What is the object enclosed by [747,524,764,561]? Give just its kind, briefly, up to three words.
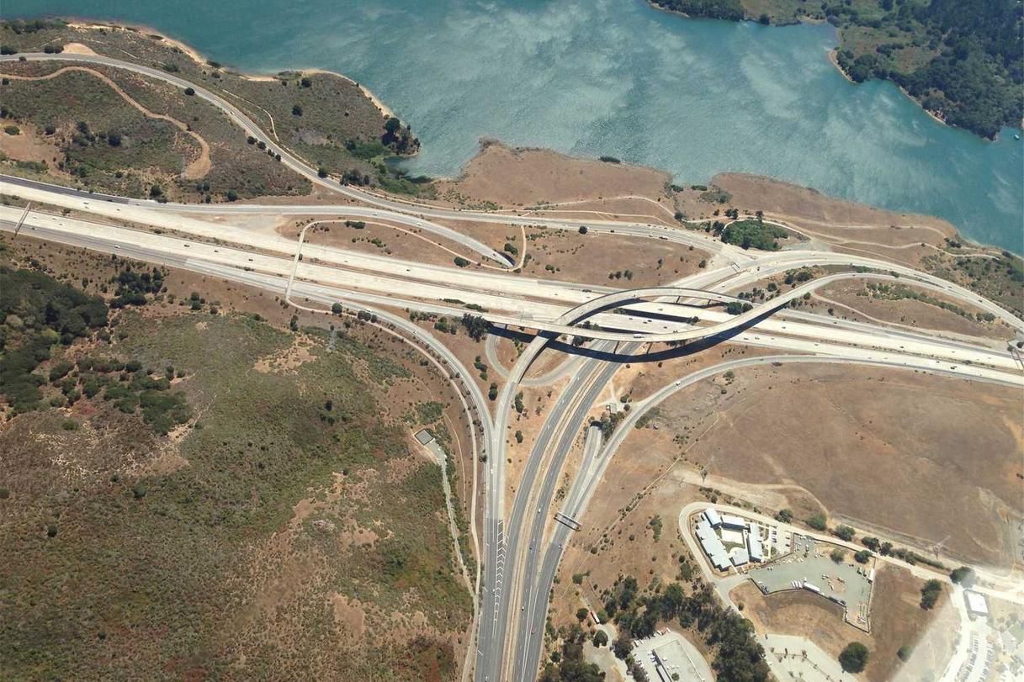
building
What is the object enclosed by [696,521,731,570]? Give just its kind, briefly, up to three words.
building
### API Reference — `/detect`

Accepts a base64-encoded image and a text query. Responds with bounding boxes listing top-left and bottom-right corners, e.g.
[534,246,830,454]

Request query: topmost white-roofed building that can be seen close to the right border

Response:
[965,592,988,615]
